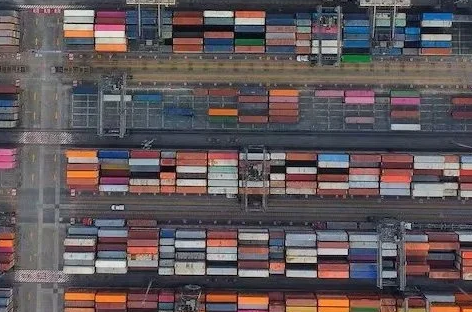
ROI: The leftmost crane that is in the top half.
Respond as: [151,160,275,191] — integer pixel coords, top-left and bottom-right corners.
[97,71,135,138]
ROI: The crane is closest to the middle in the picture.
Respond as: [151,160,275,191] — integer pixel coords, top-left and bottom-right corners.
[236,140,267,212]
